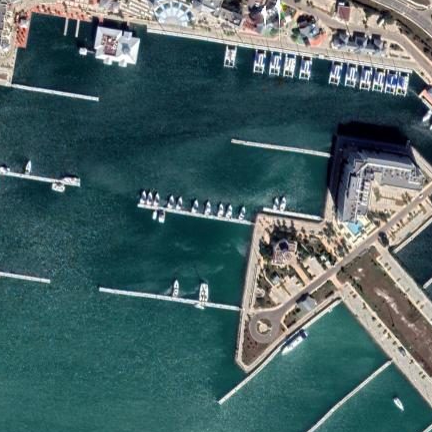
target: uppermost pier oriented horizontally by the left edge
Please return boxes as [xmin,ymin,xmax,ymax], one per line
[10,83,100,101]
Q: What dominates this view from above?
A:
water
